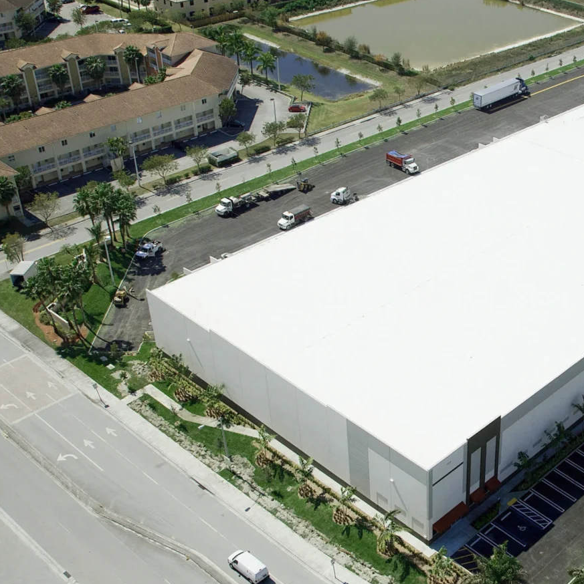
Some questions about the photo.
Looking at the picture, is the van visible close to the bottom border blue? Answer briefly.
No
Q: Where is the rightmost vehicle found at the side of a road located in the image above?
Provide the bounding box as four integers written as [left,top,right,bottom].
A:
[512,82,530,99]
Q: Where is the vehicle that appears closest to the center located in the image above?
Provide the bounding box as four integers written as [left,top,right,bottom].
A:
[279,207,314,228]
